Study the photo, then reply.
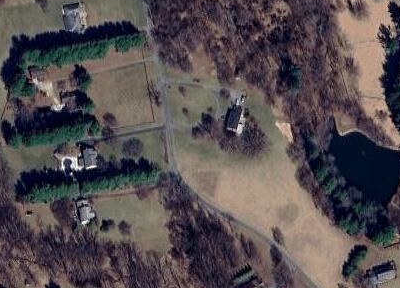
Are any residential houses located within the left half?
Yes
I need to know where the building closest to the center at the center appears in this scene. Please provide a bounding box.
[225,100,244,129]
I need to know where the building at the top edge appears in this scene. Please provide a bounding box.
[62,4,83,28]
